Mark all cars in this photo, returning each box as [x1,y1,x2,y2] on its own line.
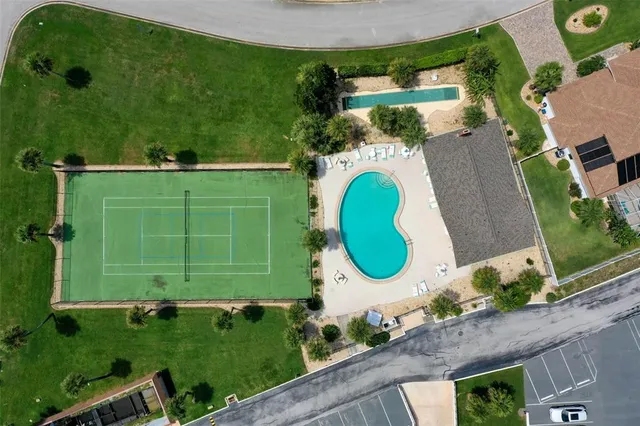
[549,404,586,422]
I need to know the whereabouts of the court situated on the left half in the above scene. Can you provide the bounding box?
[62,171,312,302]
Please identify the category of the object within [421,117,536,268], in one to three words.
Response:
building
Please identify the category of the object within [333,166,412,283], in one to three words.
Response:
swimming pool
